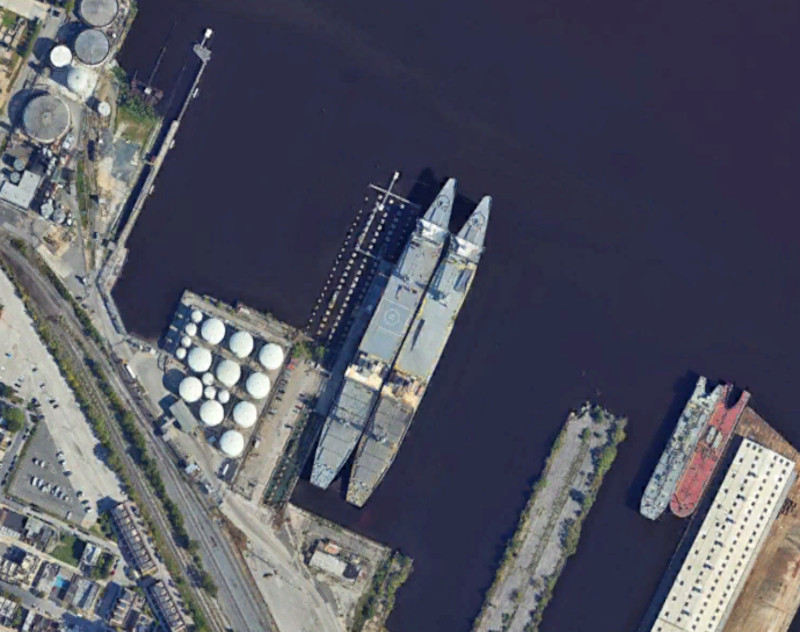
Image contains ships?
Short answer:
Yes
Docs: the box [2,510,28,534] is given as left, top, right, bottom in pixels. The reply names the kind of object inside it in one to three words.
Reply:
building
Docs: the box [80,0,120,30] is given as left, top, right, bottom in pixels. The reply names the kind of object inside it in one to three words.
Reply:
storage tank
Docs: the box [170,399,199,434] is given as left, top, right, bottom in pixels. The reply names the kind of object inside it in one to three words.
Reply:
shed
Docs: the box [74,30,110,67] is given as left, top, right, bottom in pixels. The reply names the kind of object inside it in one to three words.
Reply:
storage tank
